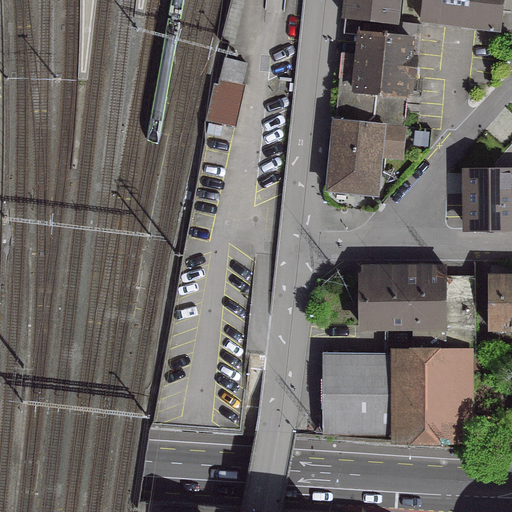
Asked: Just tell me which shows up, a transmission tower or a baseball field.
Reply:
transmission tower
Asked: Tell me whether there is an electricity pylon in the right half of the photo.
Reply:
Yes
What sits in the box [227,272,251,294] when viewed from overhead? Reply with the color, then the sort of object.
black car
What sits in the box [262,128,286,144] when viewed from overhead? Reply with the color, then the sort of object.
white car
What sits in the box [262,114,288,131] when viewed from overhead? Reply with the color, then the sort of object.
white car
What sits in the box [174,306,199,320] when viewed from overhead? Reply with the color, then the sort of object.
white vehicle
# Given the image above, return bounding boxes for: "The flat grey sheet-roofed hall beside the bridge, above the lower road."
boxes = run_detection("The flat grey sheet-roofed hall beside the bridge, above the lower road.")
[321,352,390,438]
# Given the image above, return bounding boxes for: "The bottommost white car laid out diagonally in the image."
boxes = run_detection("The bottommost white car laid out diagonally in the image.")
[217,361,240,382]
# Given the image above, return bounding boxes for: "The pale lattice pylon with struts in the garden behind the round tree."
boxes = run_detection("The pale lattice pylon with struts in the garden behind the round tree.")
[321,269,354,304]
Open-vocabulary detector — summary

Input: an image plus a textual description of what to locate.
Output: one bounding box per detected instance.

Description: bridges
[242,430,298,512]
